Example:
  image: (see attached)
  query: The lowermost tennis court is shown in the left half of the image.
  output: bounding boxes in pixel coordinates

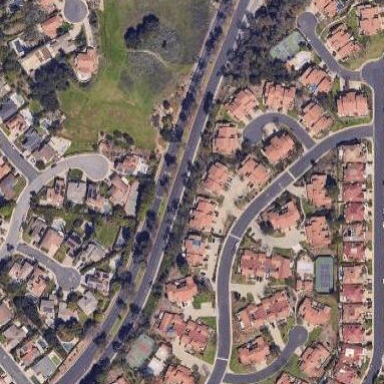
[125,333,154,368]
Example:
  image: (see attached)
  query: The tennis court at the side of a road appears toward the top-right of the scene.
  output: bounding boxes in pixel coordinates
[270,28,304,60]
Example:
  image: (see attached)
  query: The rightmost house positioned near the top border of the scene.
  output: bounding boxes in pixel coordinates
[359,4,383,35]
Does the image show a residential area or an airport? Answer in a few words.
residential area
